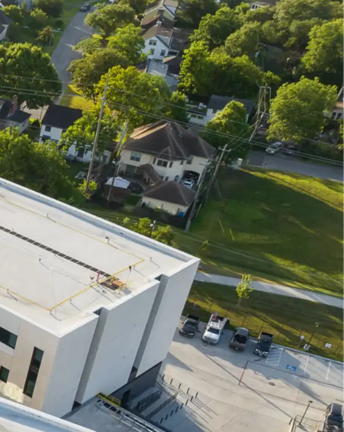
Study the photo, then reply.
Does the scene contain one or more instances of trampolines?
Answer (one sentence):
No, no trampoline is visible in the view.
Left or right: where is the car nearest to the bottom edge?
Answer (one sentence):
You can find the car nearest to the bottom edge on the right side of the picture.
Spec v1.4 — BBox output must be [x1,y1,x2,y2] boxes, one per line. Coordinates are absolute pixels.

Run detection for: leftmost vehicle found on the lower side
[179,311,202,338]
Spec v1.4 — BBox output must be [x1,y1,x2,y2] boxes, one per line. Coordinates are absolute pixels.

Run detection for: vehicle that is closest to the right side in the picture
[321,399,344,426]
